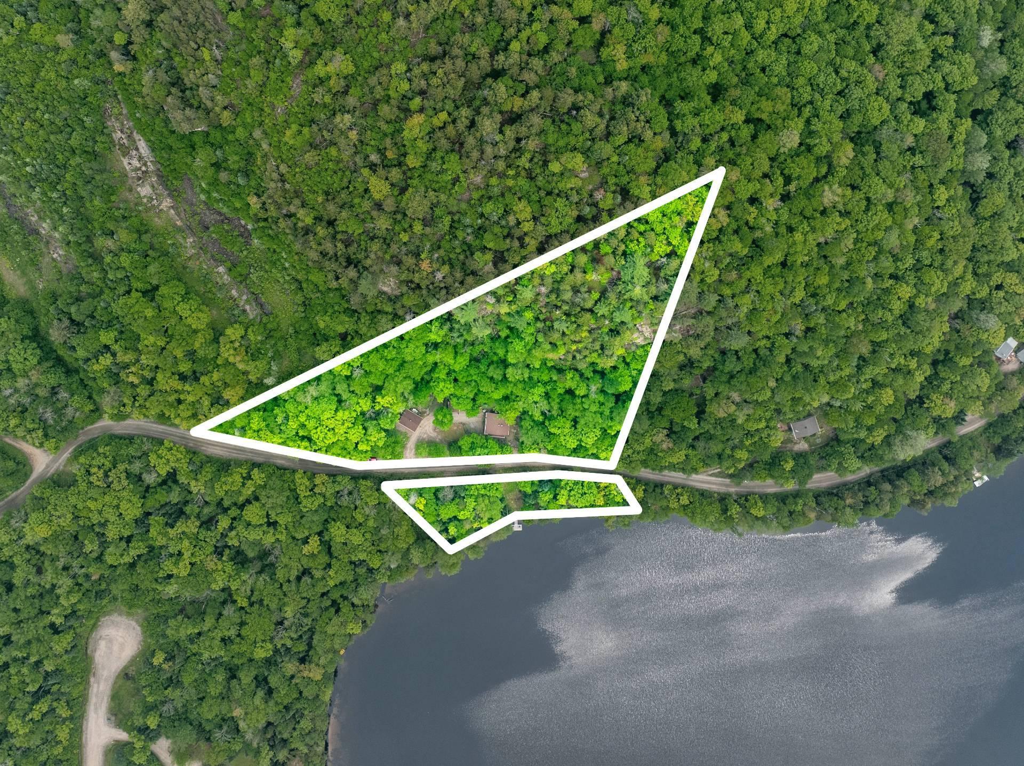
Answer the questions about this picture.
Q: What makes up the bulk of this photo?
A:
trees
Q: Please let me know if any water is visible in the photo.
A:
Yes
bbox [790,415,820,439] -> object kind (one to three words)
house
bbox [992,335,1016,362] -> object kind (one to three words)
house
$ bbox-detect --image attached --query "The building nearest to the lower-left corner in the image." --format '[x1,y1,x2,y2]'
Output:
[399,409,423,432]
